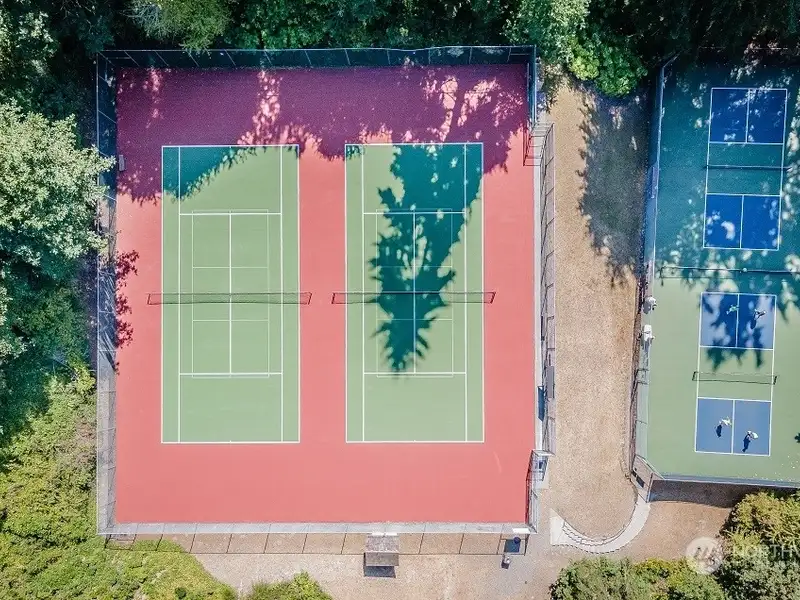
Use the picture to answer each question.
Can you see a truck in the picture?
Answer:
No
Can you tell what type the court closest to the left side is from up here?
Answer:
tennis court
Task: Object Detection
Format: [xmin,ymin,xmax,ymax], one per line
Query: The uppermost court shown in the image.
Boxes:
[705,88,788,252]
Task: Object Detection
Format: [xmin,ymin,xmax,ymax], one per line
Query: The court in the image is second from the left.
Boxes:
[345,143,484,443]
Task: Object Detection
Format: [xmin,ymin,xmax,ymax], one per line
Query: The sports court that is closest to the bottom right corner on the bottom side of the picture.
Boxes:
[695,292,778,459]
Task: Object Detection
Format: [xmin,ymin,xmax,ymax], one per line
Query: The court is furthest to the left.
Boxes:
[162,145,299,443]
